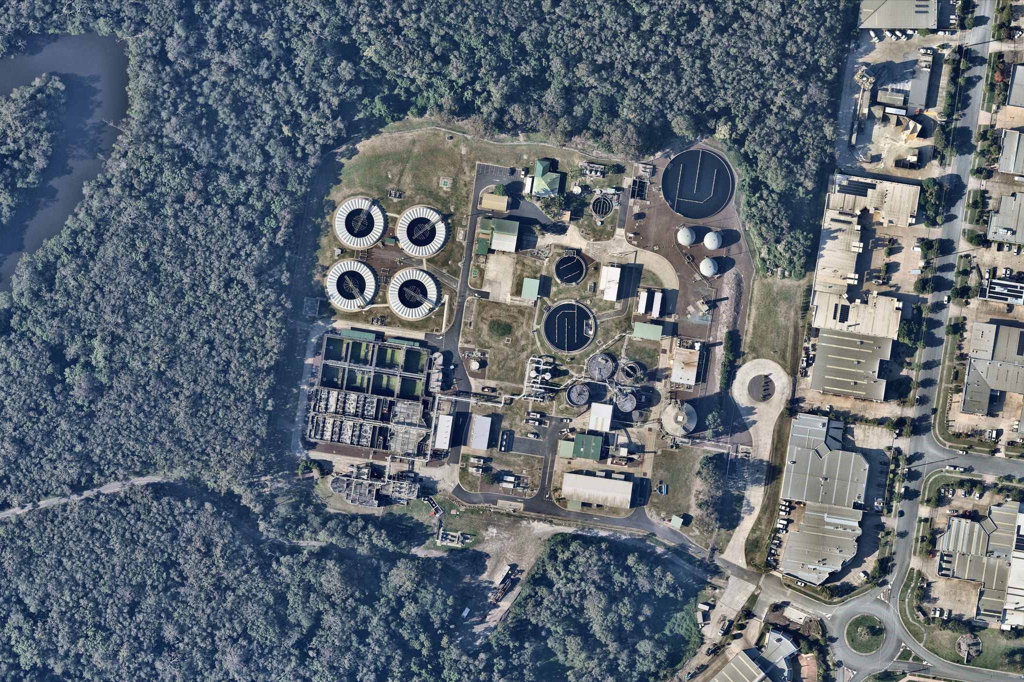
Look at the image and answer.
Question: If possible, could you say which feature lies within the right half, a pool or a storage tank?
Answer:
storage tank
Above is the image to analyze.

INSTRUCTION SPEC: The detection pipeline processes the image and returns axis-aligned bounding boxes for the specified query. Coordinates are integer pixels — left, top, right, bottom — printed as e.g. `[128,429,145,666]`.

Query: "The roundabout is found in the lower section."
[845,614,886,655]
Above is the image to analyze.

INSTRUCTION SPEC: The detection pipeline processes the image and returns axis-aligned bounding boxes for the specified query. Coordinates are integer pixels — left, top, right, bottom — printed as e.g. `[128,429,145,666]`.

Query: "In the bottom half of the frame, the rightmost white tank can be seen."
[659,400,697,437]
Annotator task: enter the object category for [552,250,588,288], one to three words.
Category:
storage tank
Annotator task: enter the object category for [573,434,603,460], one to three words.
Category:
house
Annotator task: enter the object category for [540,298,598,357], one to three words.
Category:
storage tank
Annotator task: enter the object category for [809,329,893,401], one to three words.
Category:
building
